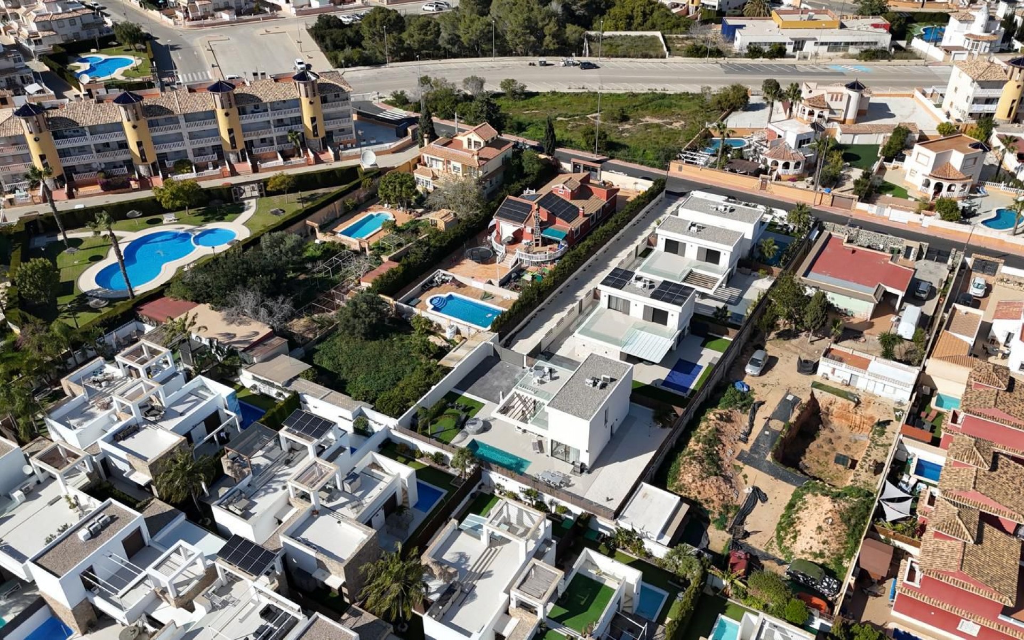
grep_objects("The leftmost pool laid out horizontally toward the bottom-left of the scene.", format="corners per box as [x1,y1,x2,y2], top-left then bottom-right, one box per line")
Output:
[22,617,77,640]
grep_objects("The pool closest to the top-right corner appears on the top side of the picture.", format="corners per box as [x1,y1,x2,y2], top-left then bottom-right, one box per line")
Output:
[921,27,943,42]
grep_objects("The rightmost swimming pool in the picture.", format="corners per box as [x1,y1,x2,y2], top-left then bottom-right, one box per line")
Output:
[977,206,1024,231]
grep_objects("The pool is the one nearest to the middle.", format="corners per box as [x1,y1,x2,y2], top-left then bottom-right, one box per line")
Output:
[427,291,507,328]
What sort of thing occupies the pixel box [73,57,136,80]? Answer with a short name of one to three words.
swimming pool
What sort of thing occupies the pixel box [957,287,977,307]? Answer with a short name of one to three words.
car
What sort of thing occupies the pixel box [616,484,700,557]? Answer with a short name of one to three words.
shed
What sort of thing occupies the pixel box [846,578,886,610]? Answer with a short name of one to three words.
umbrella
